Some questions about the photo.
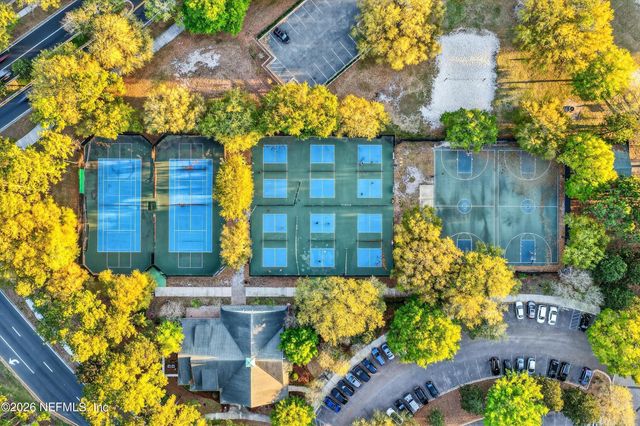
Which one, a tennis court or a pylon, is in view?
tennis court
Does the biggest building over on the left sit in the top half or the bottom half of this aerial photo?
bottom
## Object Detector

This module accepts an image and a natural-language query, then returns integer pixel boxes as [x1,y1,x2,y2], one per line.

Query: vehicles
[579,312,593,330]
[515,354,524,373]
[338,379,356,396]
[548,358,559,377]
[369,345,388,367]
[386,406,402,425]
[352,365,370,383]
[414,385,429,405]
[526,299,536,319]
[558,360,569,380]
[331,387,349,405]
[393,397,409,417]
[345,371,362,389]
[526,355,536,374]
[514,300,524,319]
[16,92,31,107]
[547,305,558,325]
[424,379,439,399]
[489,355,500,375]
[536,304,547,324]
[579,365,592,385]
[402,391,420,414]
[323,396,341,412]
[361,356,378,374]
[503,355,513,375]
[273,27,291,44]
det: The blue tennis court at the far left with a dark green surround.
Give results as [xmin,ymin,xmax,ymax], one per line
[84,139,154,273]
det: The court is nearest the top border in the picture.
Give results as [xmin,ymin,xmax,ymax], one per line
[421,29,498,127]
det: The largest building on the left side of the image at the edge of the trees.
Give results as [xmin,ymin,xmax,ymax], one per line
[177,305,289,410]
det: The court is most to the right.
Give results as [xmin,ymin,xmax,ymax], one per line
[497,149,559,264]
